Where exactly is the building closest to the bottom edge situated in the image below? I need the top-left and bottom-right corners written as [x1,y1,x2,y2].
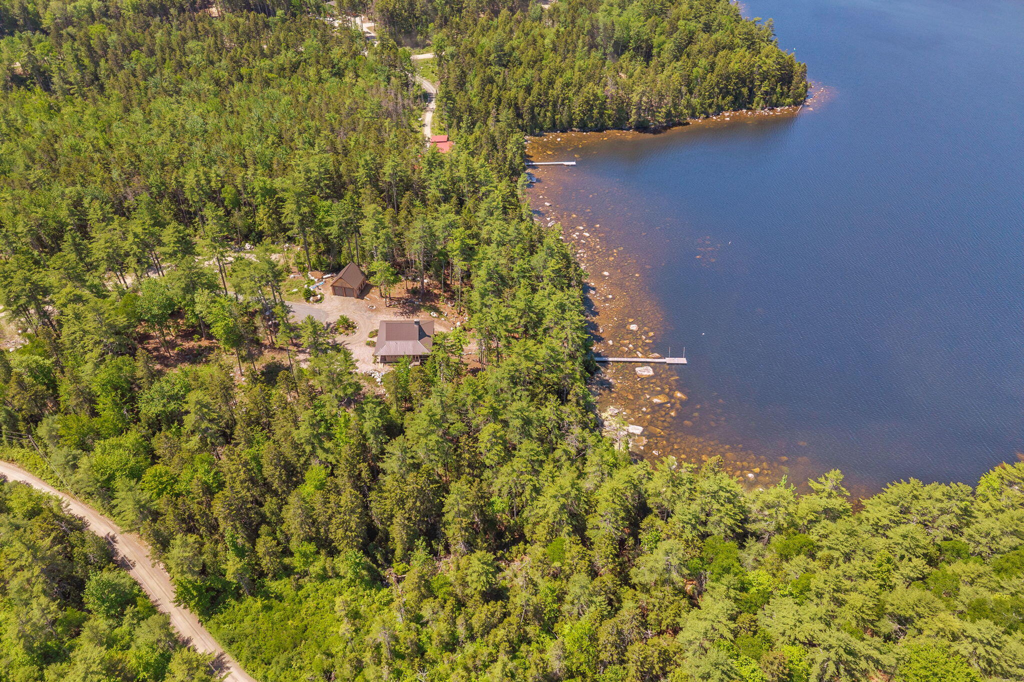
[373,317,437,370]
